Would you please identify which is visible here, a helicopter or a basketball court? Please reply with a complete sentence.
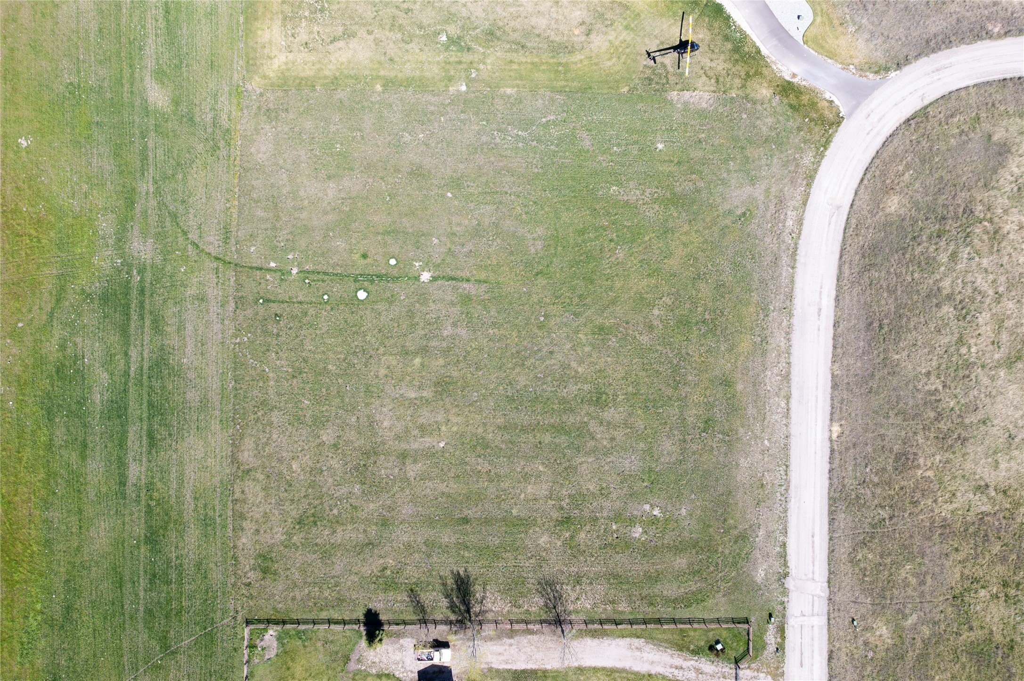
Of the two, only a helicopter appears.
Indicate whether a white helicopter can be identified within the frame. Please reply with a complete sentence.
No, no white helicopter can be seen from above.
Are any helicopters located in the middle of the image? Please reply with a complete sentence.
No, there's no helicopter to be seen in the middle of the image.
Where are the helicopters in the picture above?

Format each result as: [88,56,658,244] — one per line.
[646,13,700,75]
